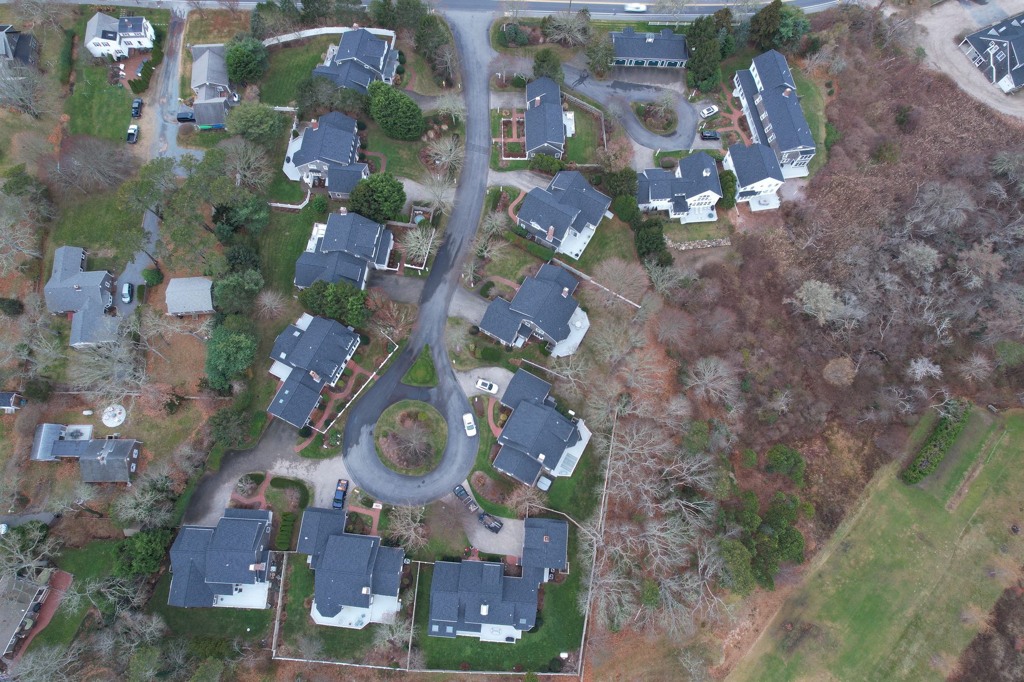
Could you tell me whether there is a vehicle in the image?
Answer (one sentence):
Yes, the picture does show a vehicle.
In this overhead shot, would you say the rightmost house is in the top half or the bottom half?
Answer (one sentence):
You can find the rightmost house in the top half.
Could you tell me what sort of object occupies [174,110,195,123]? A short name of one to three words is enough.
vehicle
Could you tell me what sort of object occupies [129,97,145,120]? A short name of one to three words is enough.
vehicle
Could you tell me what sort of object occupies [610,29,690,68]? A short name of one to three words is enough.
building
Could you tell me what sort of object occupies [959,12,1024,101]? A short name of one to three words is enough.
house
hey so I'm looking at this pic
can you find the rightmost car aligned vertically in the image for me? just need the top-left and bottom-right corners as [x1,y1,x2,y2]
[464,412,476,438]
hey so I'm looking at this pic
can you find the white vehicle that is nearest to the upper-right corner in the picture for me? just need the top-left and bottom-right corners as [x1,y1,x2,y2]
[699,105,720,119]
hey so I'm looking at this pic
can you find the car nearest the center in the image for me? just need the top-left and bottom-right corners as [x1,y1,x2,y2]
[474,379,499,394]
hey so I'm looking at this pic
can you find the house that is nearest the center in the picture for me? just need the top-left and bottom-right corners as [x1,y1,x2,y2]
[479,263,591,359]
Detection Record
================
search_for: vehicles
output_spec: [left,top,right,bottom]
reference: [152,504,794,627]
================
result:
[699,105,720,119]
[474,379,499,394]
[331,477,349,508]
[174,110,195,123]
[624,2,645,13]
[119,281,134,305]
[464,412,476,438]
[699,129,722,141]
[452,481,480,516]
[123,122,141,146]
[129,97,145,120]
